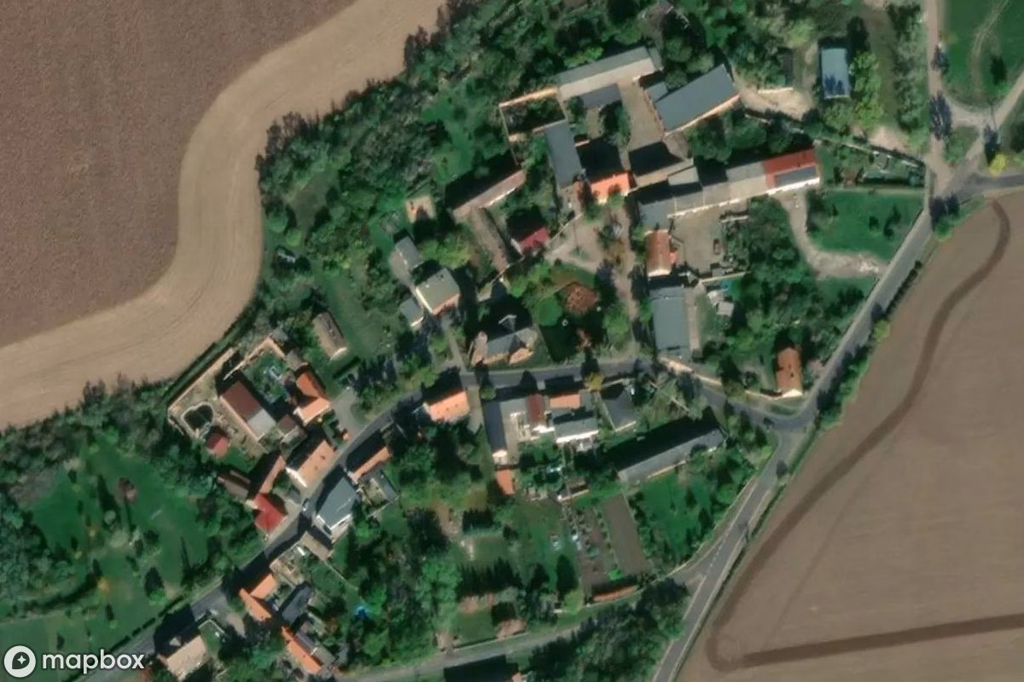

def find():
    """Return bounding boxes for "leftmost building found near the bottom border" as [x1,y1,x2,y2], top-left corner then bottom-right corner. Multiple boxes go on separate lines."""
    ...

[154,631,207,682]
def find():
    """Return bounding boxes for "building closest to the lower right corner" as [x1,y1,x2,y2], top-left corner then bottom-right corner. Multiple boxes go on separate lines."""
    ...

[772,350,803,398]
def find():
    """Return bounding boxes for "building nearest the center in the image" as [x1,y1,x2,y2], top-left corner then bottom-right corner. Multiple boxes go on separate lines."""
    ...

[467,318,535,369]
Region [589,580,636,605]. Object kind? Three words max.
shed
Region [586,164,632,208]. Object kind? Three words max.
house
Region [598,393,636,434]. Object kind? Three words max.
barn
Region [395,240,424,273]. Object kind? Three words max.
building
